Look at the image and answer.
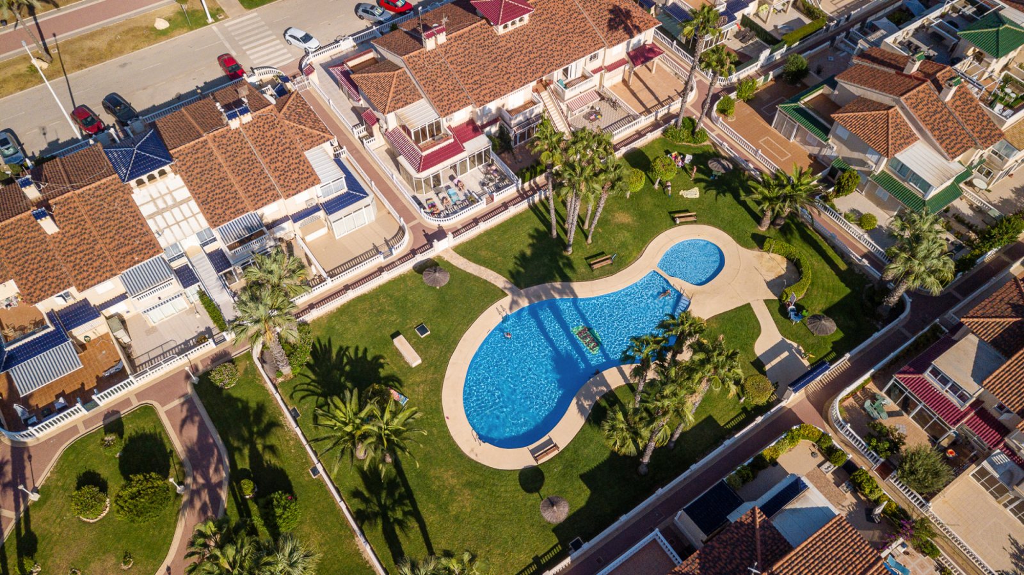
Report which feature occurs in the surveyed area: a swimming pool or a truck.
swimming pool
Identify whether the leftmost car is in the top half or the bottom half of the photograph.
top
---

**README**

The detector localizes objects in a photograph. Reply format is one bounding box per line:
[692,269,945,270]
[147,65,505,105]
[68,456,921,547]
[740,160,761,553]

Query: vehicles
[351,0,394,27]
[67,101,110,138]
[375,0,418,17]
[100,89,142,126]
[212,49,251,84]
[0,128,29,168]
[281,23,323,55]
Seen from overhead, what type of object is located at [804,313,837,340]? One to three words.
umbrella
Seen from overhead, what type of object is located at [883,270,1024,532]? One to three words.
house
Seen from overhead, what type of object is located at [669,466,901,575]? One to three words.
house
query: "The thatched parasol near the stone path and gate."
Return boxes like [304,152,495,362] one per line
[421,265,451,292]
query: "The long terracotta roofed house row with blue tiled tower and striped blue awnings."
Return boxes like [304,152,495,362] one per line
[0,74,374,403]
